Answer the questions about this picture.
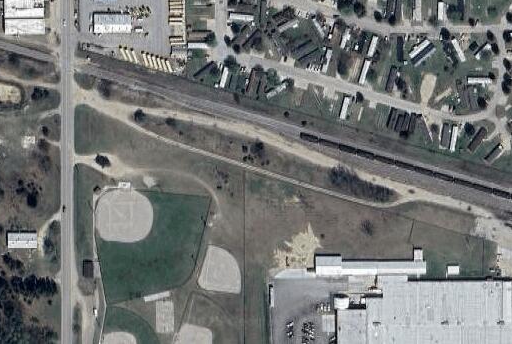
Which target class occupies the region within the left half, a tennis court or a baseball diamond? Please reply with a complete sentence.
There is a baseball diamond within the left half.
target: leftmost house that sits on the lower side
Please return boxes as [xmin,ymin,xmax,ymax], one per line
[7,232,37,248]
